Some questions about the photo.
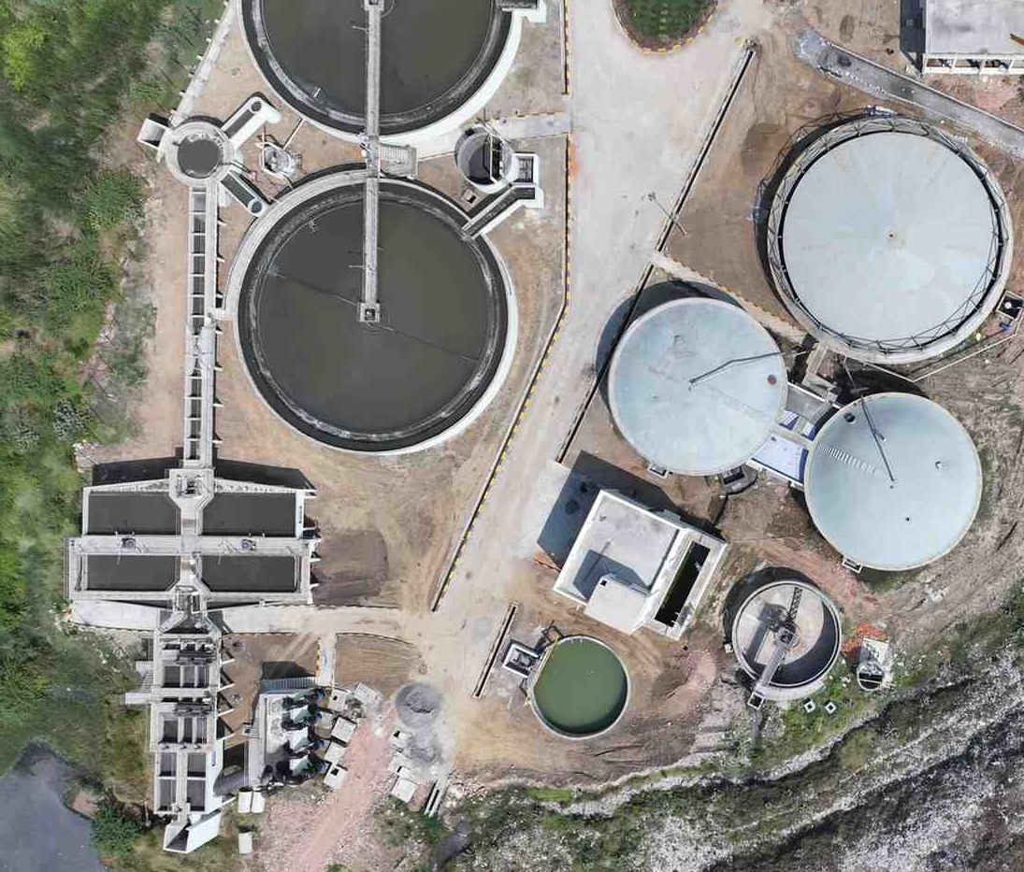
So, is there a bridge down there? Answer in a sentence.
Yes, the frame does contain a bridge.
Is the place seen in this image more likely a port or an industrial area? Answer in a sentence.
What you see here is an industrial area.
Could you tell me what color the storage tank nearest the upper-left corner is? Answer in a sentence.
The storage tank nearest the upper-left corner is white.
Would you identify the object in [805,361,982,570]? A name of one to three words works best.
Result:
storage tank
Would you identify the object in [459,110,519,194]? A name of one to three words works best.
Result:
storage tank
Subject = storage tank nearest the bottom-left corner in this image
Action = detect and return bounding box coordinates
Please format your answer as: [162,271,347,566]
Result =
[61,468,319,602]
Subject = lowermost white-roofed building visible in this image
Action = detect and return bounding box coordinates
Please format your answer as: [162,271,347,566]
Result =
[550,487,729,641]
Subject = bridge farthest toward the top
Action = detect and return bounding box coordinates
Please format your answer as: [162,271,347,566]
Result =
[362,4,382,141]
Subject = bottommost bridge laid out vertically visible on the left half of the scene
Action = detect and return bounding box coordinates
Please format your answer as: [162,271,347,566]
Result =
[359,160,378,305]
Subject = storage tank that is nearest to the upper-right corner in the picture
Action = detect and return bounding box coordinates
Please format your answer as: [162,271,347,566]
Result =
[769,113,1012,363]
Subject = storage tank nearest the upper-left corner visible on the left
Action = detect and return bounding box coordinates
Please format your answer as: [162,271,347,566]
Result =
[164,96,283,219]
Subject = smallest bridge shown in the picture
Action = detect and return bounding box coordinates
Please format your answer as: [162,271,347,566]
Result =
[752,636,790,694]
